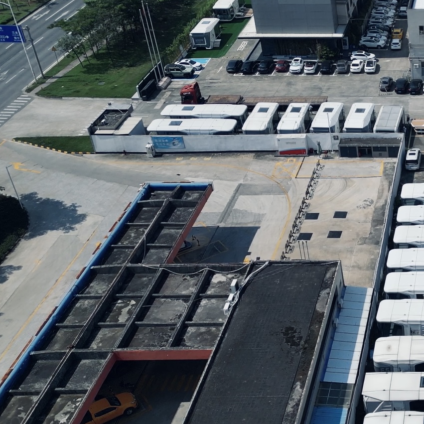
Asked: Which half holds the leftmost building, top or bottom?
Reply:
top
